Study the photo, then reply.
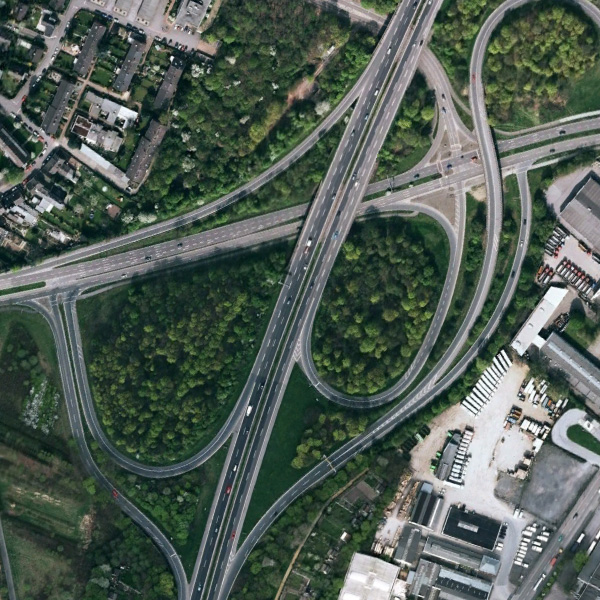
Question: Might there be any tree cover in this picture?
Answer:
Yes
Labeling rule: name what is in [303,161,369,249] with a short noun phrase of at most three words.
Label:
overpass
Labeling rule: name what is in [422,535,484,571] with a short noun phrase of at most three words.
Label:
shed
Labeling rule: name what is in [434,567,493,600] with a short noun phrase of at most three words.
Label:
shed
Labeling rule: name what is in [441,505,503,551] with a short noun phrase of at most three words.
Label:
building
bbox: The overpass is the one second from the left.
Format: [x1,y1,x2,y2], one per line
[373,0,437,70]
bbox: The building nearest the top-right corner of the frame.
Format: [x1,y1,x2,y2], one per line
[560,176,600,251]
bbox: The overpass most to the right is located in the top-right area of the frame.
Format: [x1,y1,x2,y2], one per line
[471,100,504,226]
